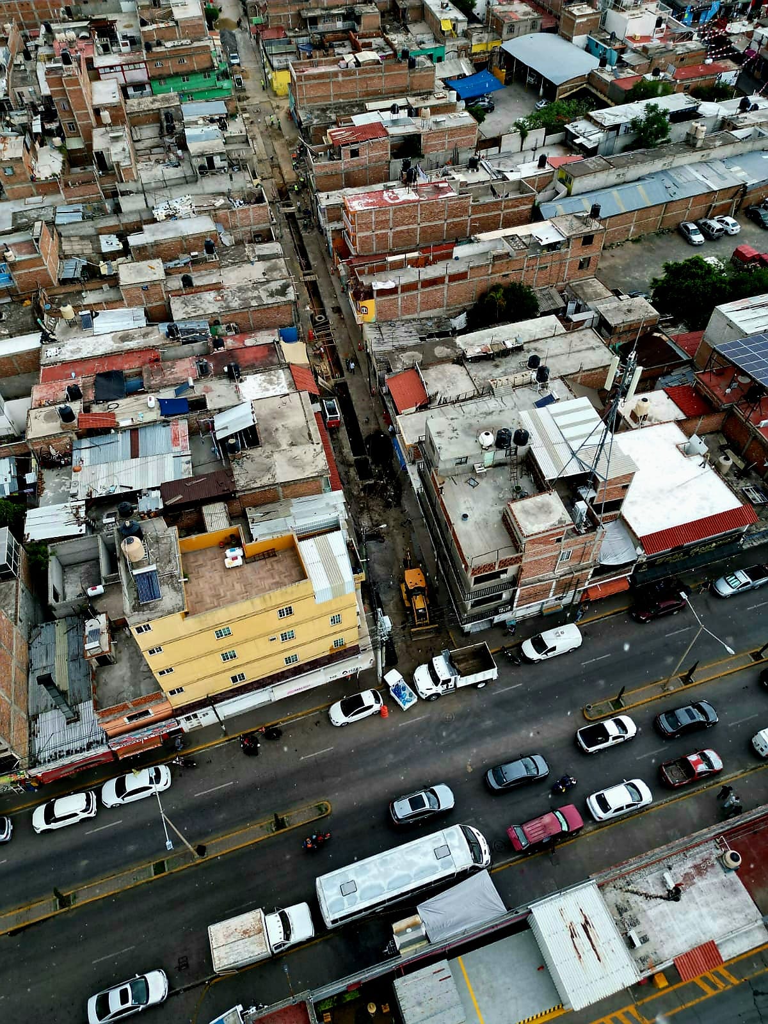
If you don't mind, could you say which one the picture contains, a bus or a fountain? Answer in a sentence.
Looking from above, you can make out a bus.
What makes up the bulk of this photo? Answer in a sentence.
Most of the picture is covered by buildings.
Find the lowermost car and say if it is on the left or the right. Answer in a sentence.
The lowermost car is on the left side of the image.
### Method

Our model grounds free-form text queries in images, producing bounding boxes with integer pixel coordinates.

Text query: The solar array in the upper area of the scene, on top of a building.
[704,320,768,399]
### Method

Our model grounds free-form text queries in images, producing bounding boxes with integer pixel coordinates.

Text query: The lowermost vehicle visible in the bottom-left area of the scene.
[85,966,171,1024]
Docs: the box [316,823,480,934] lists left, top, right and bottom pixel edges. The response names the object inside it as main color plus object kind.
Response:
white bus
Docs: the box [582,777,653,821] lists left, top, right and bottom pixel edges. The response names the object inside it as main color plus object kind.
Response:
white car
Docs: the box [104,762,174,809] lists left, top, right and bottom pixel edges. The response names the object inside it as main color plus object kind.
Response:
white car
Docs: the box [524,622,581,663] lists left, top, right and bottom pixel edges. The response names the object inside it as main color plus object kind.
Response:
white van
